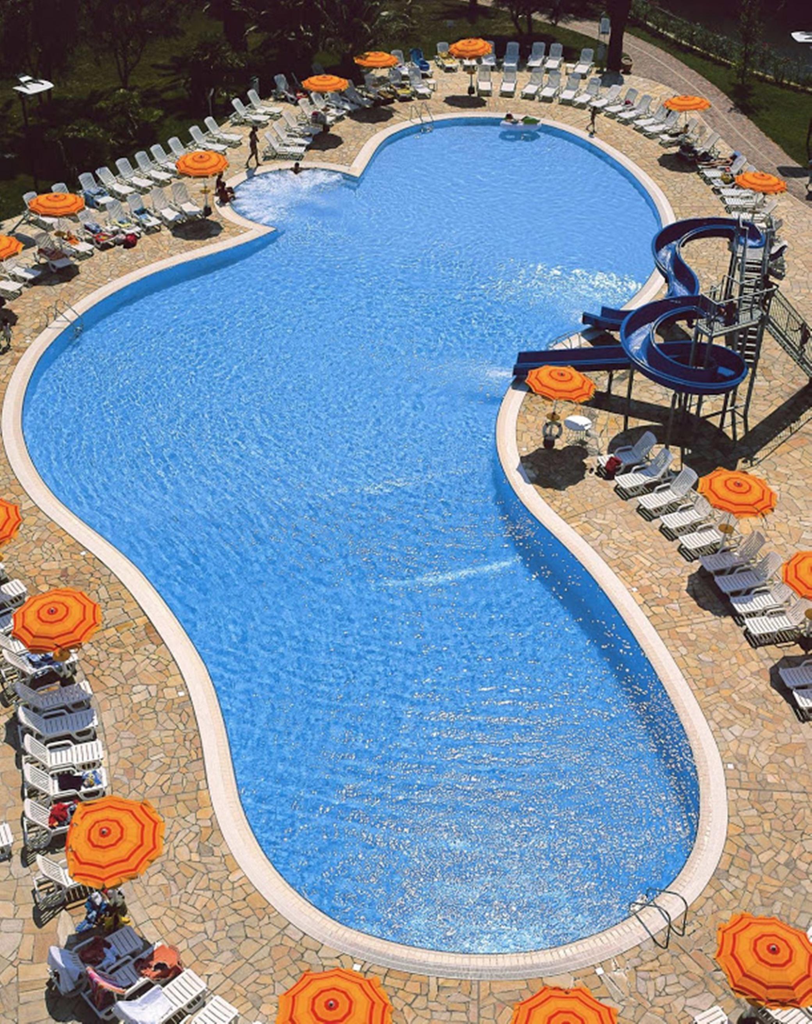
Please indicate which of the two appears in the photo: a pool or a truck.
pool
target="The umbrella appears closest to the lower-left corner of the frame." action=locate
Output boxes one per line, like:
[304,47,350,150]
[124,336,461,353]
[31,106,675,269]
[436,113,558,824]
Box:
[62,792,170,910]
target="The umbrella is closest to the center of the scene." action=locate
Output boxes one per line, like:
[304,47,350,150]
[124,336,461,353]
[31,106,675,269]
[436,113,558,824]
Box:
[524,362,593,441]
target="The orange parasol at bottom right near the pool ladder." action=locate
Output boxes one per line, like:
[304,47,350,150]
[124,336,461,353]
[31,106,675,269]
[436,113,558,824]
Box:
[713,905,812,1024]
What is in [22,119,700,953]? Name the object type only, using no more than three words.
swimming pool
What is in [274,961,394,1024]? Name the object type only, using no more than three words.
umbrella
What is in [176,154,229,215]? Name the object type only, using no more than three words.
umbrella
